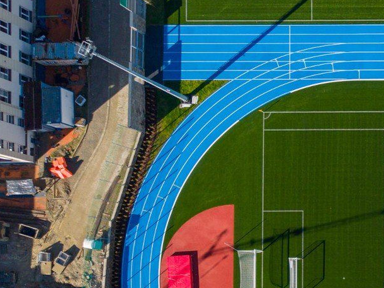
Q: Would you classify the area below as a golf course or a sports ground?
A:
sports ground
